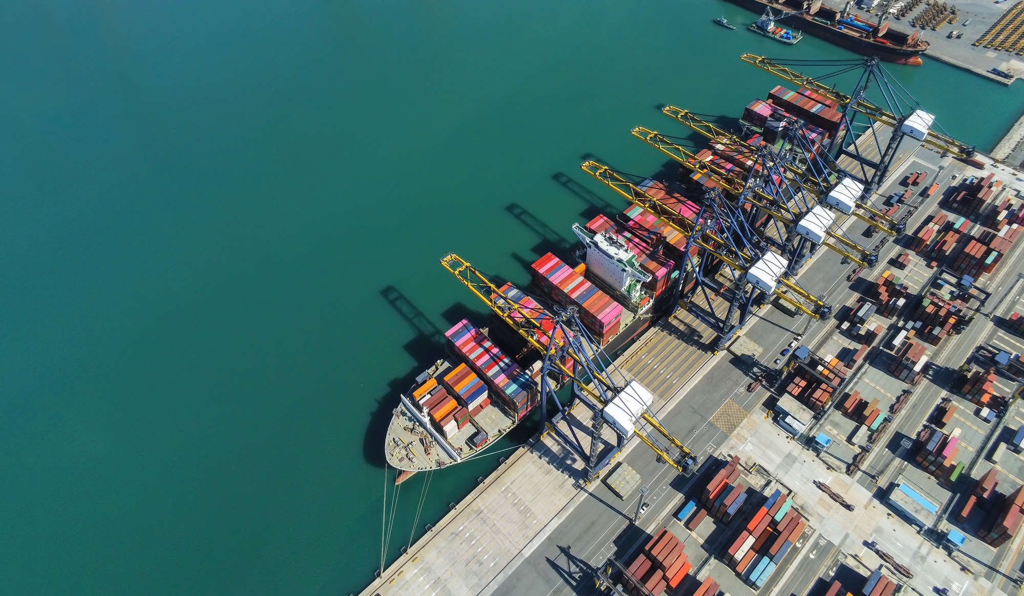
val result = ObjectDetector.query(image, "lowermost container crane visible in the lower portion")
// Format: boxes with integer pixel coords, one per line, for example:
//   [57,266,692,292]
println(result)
[587,552,659,596]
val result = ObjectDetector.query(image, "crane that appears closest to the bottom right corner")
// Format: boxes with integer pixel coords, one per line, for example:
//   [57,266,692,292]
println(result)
[949,356,1024,430]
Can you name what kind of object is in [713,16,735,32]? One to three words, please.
boat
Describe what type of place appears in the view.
port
